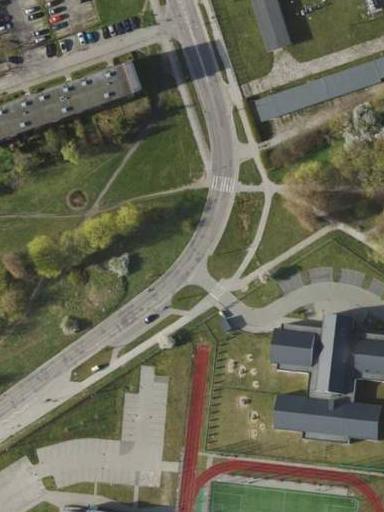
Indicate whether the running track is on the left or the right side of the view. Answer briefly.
right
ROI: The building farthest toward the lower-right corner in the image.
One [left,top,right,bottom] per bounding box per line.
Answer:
[269,314,384,446]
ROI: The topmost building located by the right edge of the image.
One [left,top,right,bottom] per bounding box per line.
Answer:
[255,58,384,121]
